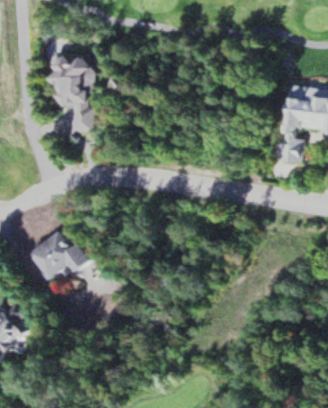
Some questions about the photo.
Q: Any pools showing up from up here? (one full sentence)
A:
No, I can't see a single pool in this photo.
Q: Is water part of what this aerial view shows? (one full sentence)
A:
No, no water is visible.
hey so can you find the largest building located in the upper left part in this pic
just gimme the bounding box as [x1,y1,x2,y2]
[44,52,96,132]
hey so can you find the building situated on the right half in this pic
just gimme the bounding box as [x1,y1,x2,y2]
[281,83,328,159]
